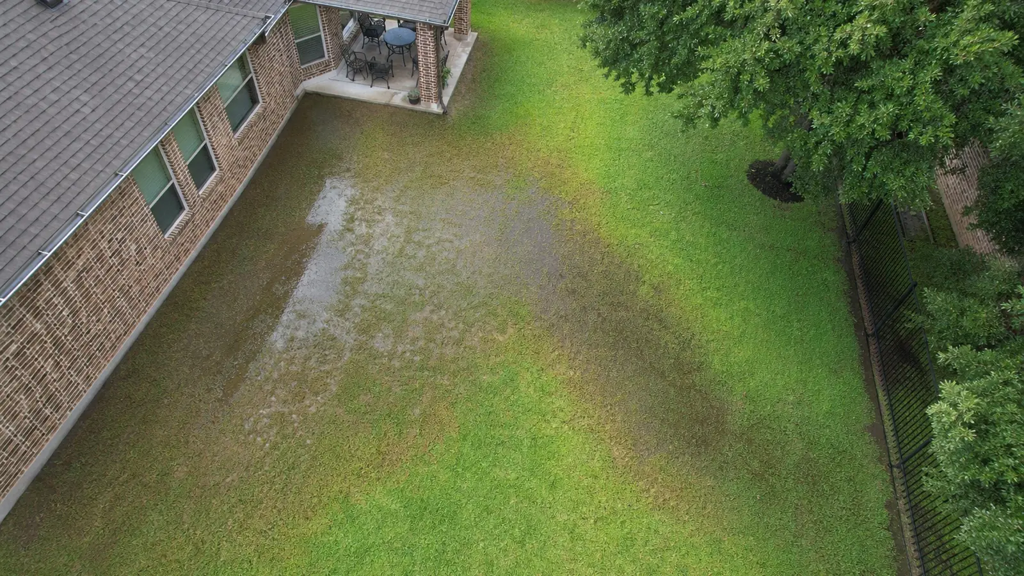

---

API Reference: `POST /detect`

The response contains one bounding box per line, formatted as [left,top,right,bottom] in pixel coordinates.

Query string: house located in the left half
[0,0,466,515]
